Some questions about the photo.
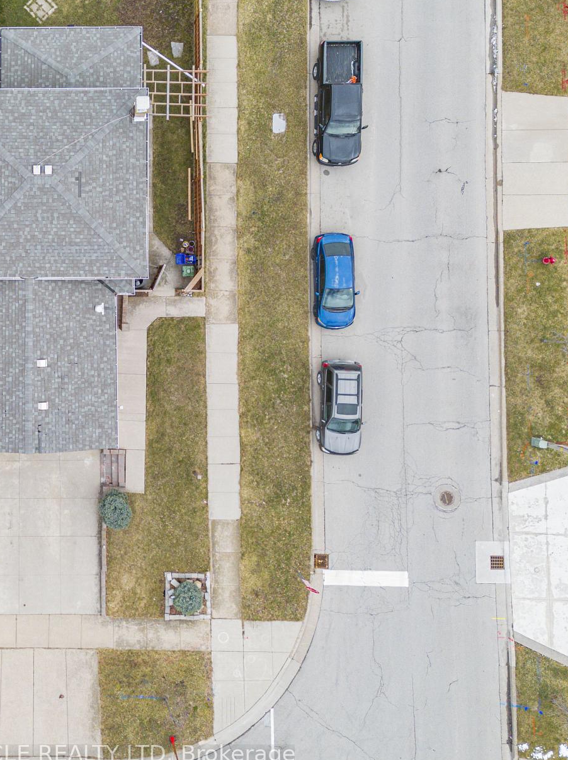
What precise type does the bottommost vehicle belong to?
automobile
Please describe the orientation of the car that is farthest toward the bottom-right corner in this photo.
from top to bottom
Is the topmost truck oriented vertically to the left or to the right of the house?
right of it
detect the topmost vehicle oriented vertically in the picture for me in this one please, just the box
[311,40,364,165]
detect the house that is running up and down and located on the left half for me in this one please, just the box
[0,24,200,453]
